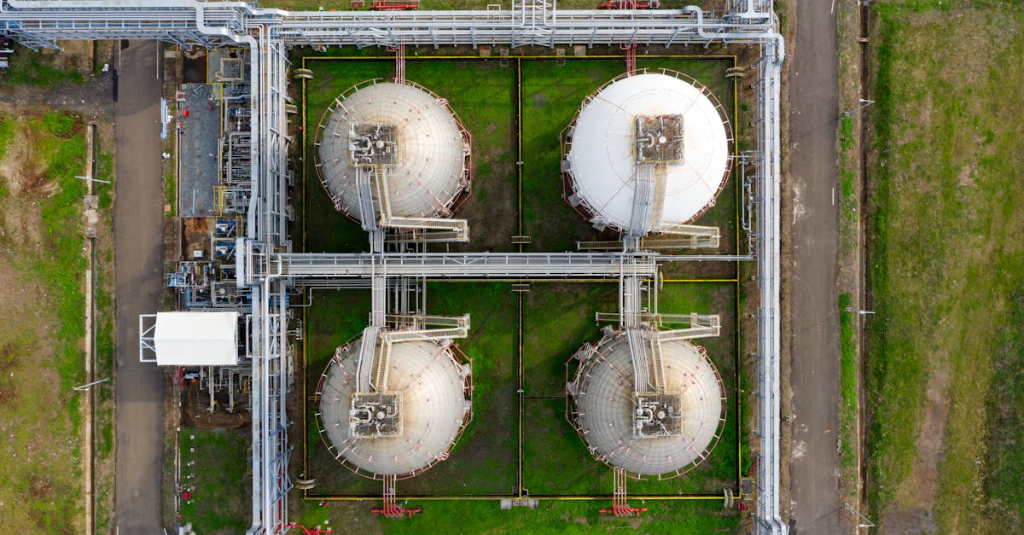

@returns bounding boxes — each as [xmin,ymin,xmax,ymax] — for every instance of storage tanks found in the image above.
[316,279,481,481]
[315,77,480,253]
[559,279,726,480]
[554,69,732,253]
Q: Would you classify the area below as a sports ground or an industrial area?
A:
industrial area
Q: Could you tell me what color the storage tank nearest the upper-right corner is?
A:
white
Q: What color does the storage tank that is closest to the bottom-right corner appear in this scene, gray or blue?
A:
gray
